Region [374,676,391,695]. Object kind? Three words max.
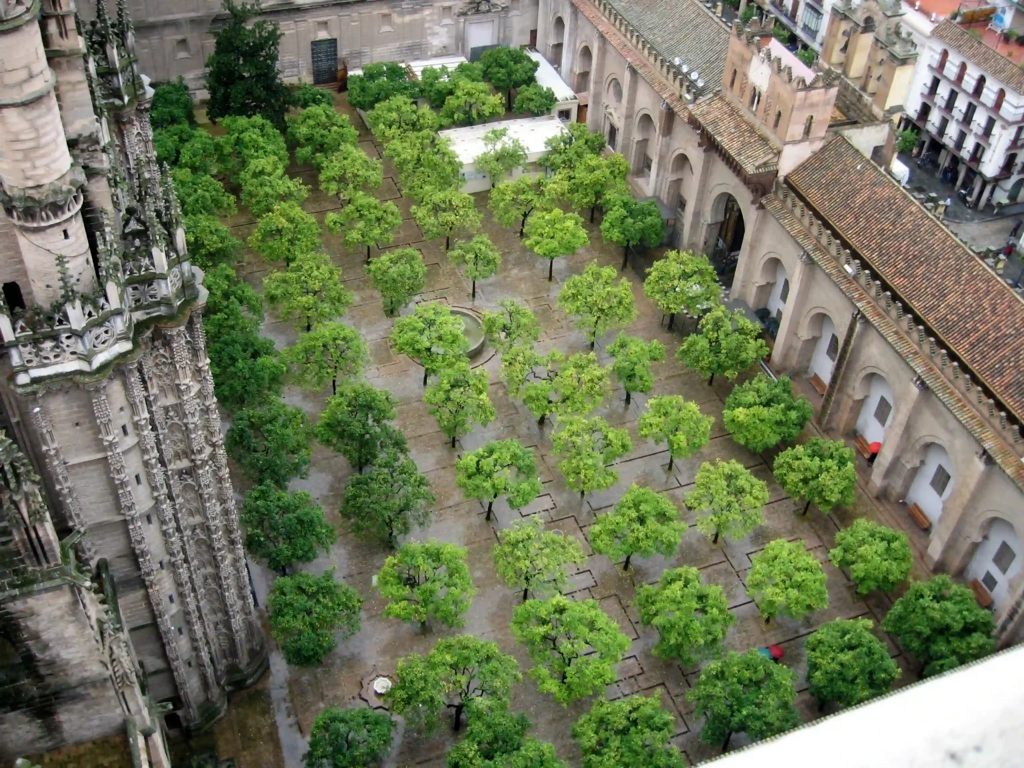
fountain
